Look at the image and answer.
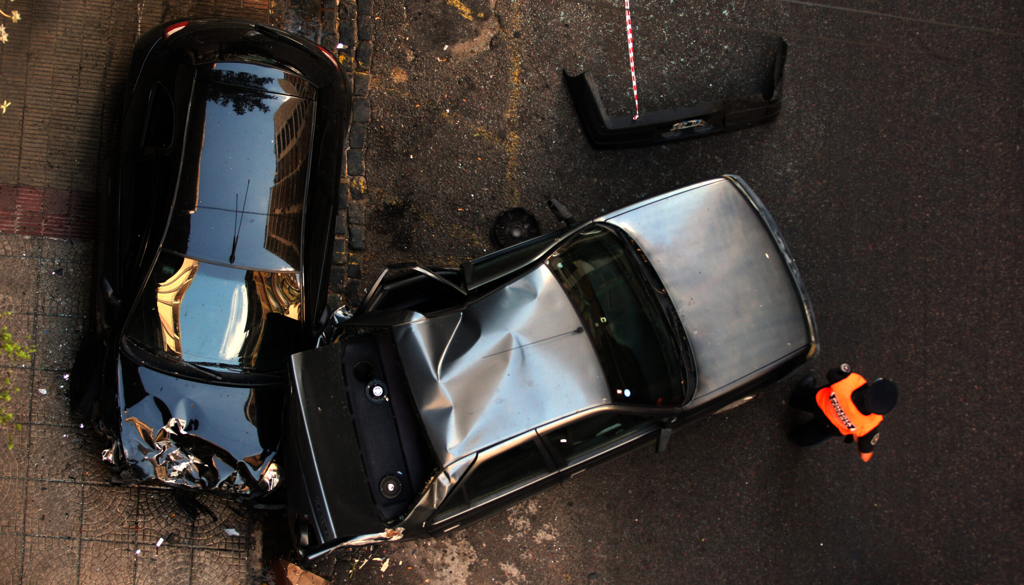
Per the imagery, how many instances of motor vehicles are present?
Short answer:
2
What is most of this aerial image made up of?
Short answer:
paved ground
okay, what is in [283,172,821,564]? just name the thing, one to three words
car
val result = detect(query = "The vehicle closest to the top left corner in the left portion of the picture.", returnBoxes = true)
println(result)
[78,16,353,523]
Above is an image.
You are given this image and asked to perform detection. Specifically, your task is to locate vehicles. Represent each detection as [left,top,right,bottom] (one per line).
[78,16,353,523]
[283,172,821,564]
